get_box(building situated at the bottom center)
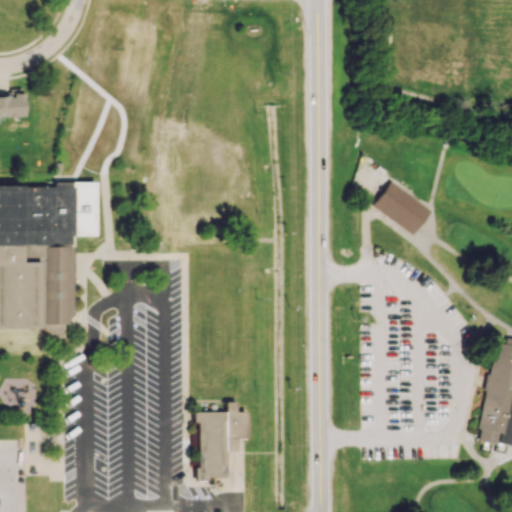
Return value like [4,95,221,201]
[197,403,250,480]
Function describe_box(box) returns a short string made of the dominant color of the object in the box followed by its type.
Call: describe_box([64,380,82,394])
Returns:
white vehicle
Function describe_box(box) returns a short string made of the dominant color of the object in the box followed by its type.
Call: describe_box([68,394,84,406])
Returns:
white vehicle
